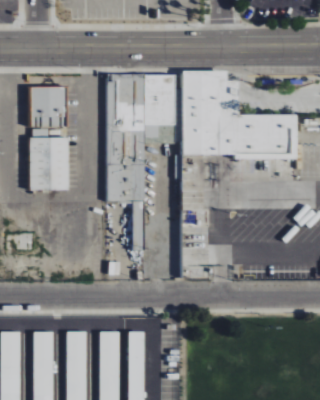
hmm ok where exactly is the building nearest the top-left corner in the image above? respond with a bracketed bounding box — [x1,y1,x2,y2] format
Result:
[28,86,66,126]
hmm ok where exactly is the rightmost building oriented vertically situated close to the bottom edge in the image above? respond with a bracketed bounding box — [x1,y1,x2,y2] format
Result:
[127,331,145,400]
